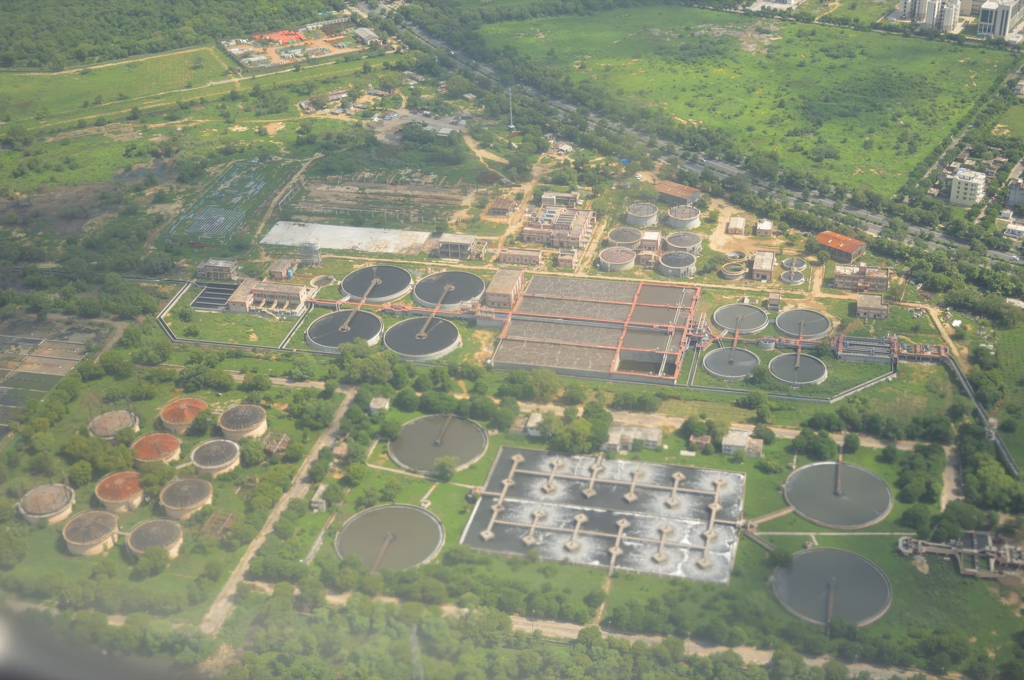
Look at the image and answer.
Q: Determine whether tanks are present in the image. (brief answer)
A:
Yes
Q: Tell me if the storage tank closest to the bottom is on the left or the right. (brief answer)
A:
right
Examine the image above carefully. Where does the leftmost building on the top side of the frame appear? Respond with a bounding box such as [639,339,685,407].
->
[196,257,239,281]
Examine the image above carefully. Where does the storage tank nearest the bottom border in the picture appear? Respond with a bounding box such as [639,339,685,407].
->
[771,547,893,636]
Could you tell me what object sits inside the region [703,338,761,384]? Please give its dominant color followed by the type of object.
gray storage tank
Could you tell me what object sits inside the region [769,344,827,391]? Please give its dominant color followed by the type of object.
gray storage tank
